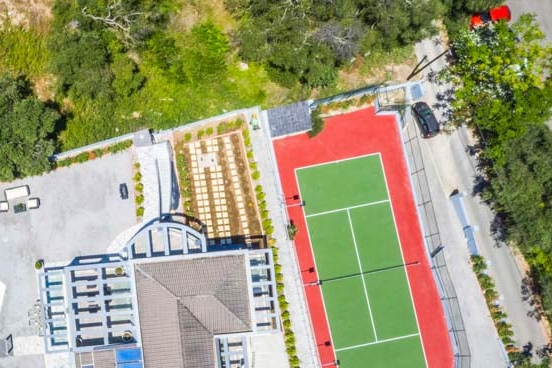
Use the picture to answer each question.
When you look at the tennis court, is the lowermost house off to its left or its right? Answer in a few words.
left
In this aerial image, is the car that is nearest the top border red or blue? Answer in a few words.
red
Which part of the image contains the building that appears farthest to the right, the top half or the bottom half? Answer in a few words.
top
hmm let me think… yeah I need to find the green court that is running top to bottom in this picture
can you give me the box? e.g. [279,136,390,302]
[276,108,446,368]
